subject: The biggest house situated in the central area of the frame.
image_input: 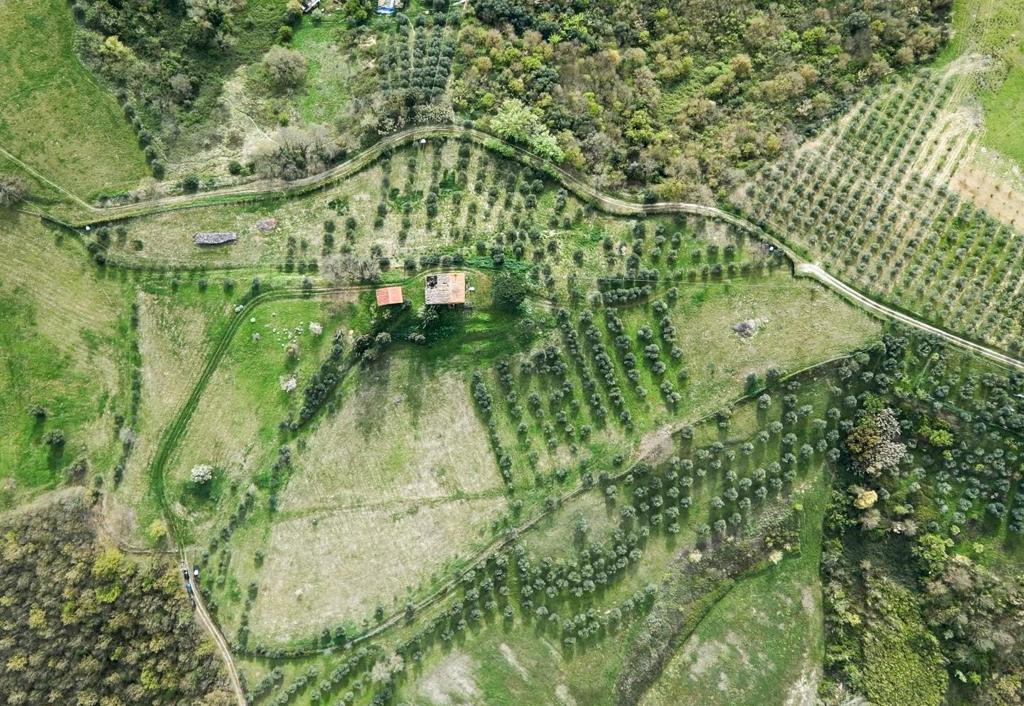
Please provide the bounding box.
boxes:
[425,271,466,305]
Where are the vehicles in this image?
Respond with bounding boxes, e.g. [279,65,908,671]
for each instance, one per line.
[183,568,191,580]
[187,582,195,595]
[191,597,199,609]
